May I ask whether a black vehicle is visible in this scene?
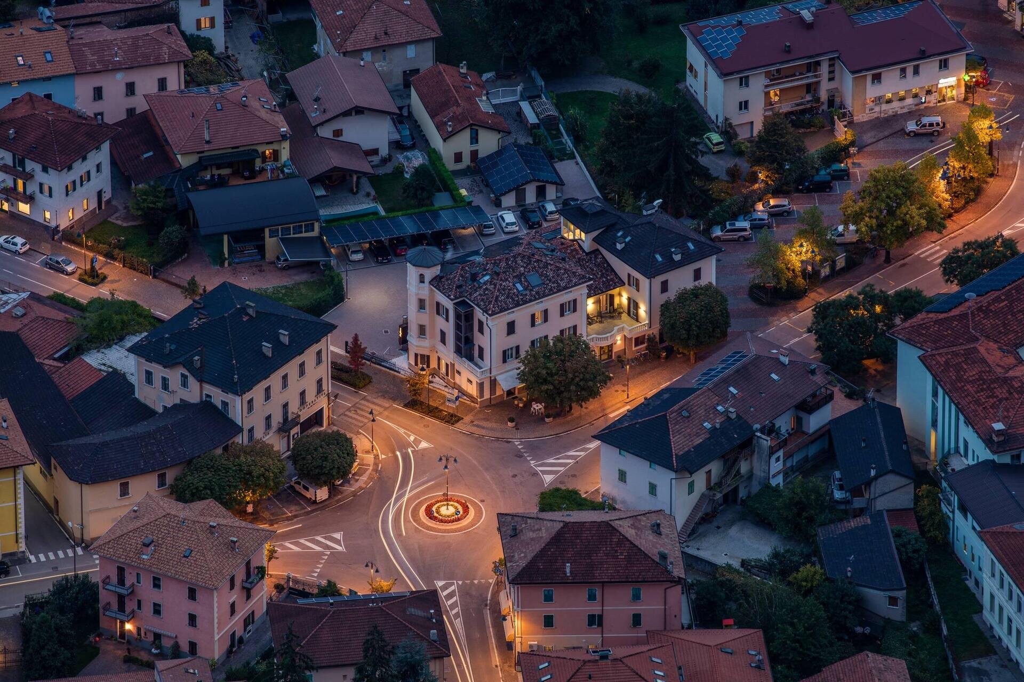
Yes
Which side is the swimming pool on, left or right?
left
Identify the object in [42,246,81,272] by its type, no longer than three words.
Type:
car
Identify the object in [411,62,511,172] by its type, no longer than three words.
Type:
house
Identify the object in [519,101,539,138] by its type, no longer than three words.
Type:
shed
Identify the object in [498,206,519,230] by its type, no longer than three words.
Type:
car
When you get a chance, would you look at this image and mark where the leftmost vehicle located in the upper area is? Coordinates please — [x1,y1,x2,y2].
[0,236,32,257]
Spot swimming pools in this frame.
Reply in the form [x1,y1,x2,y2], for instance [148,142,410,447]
[318,204,380,226]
